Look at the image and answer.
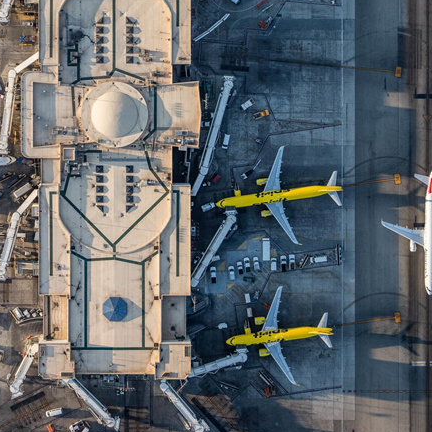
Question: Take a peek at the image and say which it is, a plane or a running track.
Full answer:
This aerial view contains a plane.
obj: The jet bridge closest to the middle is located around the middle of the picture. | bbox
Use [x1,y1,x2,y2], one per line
[191,205,240,288]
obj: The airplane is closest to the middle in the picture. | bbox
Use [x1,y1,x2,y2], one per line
[216,143,344,248]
